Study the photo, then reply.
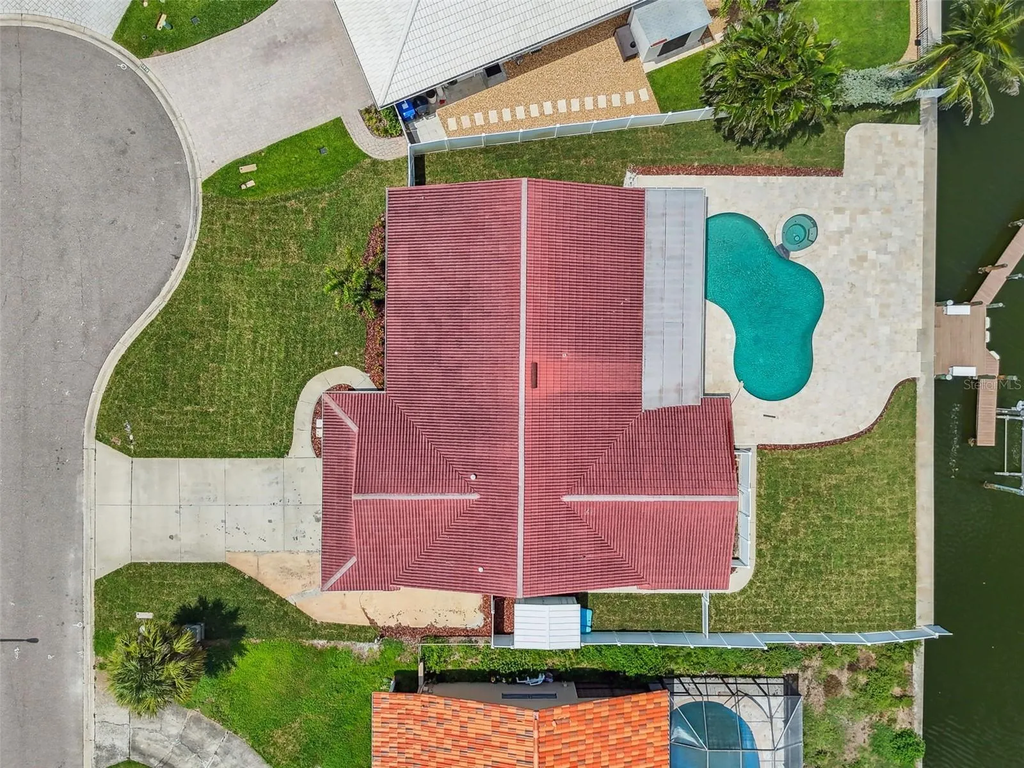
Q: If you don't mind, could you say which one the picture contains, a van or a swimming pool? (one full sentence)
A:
There is a swimming pool in the scene.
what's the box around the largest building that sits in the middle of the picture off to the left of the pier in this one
[317,175,740,599]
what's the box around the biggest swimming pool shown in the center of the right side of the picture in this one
[709,208,828,404]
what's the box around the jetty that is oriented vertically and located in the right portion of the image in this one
[934,213,1024,446]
